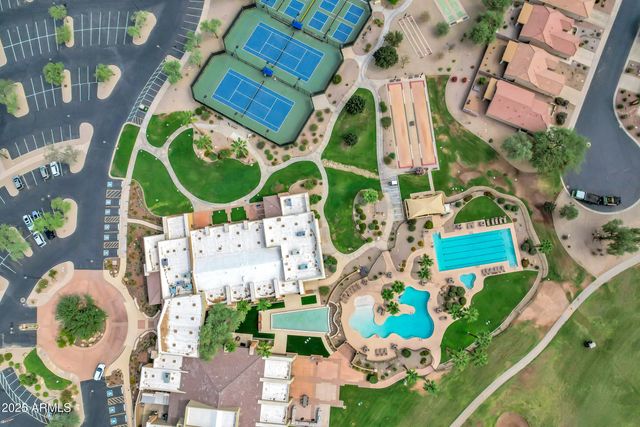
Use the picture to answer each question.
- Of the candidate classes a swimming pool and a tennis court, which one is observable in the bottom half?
swimming pool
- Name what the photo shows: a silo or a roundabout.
roundabout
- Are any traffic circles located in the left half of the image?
Yes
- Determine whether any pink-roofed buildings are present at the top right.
Yes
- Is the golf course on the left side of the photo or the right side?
right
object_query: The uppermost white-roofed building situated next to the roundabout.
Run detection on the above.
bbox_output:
[144,193,325,357]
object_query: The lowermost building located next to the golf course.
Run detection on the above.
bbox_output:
[135,348,299,427]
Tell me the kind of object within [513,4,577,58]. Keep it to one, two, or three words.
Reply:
house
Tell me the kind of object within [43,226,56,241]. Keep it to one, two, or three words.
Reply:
vehicle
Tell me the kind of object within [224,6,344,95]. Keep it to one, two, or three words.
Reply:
tennis court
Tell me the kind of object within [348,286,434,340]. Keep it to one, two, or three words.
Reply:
swimming pool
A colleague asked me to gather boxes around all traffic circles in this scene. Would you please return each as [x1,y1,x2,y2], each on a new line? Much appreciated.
[37,269,128,381]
